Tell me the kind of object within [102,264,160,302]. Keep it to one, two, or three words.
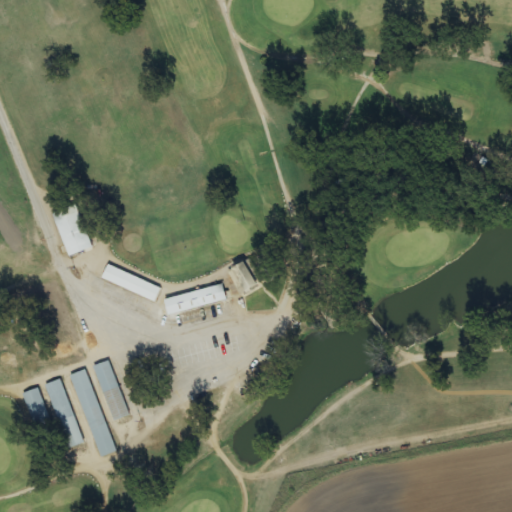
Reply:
shed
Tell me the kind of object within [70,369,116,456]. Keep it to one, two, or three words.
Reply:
barn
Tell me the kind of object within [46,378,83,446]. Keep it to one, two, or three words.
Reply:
barn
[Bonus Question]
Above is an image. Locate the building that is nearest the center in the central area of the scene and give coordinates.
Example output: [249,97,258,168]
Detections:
[230,262,258,293]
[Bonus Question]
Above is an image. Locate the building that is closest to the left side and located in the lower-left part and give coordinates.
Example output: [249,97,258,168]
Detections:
[23,387,57,438]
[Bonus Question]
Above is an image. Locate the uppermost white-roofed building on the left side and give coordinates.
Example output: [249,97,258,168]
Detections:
[54,209,92,255]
